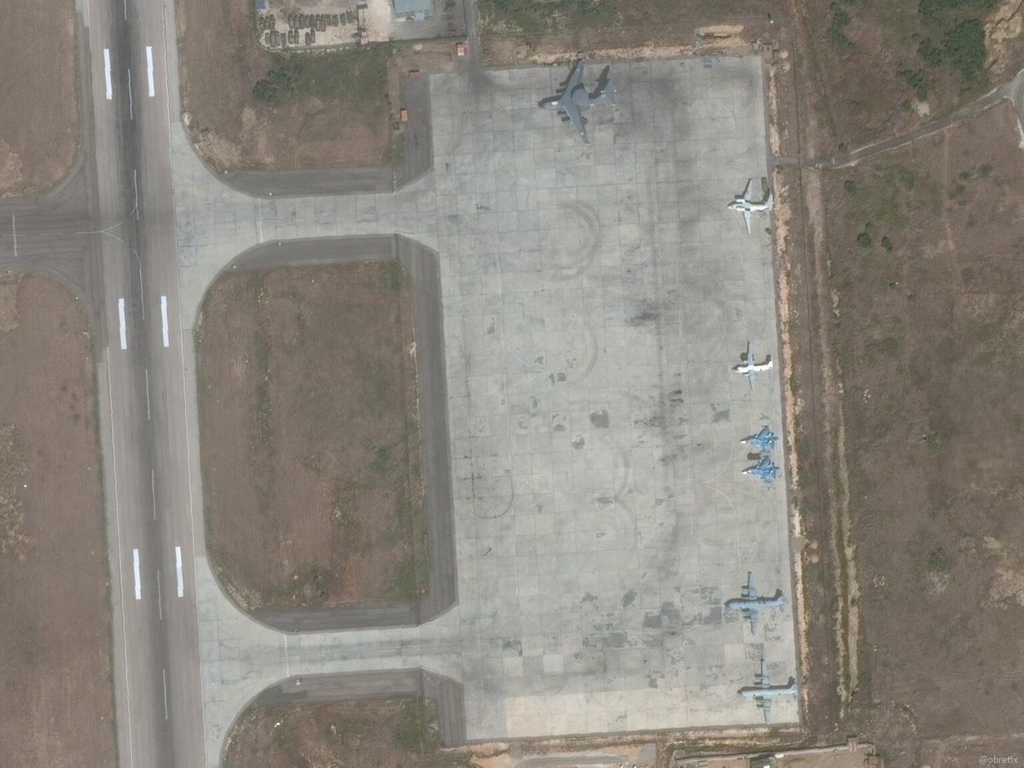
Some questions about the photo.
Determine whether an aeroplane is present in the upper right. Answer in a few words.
Yes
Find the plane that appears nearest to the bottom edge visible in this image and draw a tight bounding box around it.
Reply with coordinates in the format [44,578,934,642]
[737,659,797,724]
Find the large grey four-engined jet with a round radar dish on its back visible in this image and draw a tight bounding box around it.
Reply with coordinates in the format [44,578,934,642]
[540,60,616,144]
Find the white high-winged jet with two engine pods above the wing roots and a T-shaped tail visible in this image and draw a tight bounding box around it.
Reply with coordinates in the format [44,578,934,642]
[727,179,772,232]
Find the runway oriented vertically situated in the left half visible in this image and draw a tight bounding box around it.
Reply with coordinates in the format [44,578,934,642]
[88,0,206,768]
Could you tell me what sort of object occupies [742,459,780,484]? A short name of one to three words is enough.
airplane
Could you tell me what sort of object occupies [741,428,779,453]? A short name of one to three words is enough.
airplane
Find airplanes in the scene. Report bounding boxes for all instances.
[742,459,780,484]
[727,179,772,232]
[724,572,784,636]
[733,344,773,394]
[741,428,779,453]
[540,60,616,144]
[737,659,797,724]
